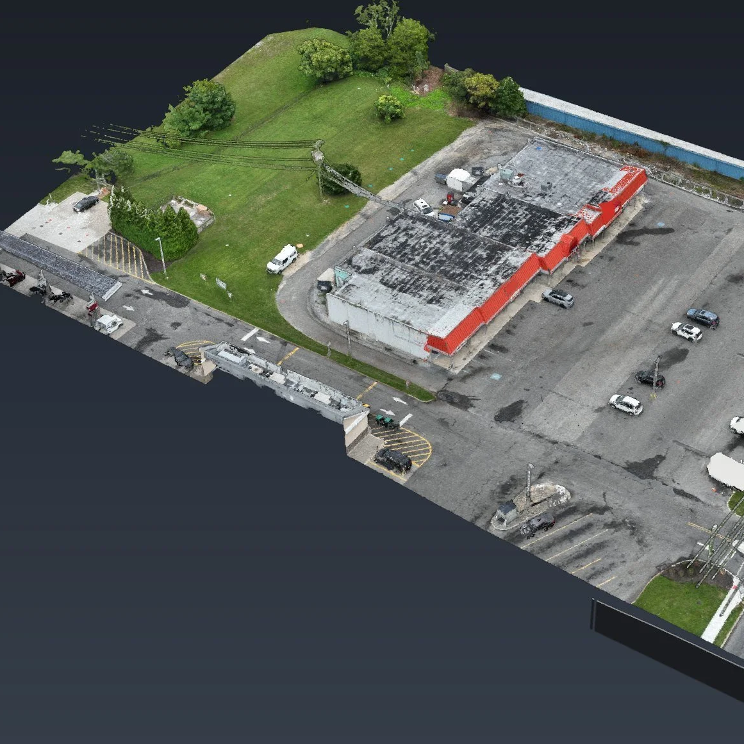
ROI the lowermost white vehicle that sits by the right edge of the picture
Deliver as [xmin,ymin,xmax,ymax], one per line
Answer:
[705,452,744,489]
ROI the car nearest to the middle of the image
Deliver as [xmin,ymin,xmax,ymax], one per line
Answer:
[374,449,413,471]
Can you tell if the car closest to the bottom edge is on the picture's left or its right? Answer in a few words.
right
